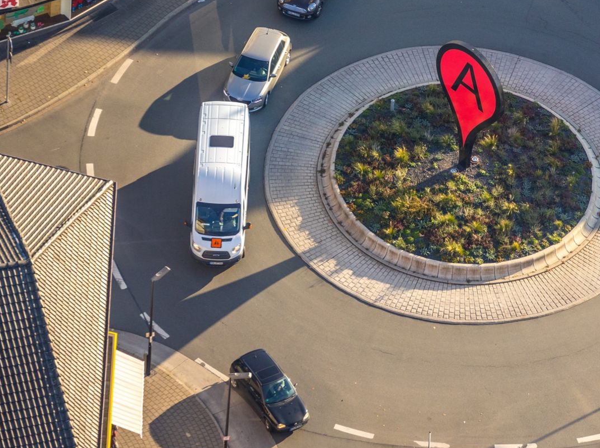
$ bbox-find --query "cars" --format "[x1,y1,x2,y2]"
[223,23,290,115]
[277,0,324,20]
[235,347,312,433]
